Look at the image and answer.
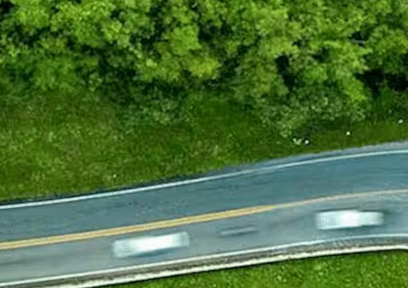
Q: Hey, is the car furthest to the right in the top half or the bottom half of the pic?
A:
bottom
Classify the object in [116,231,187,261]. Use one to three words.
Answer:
van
